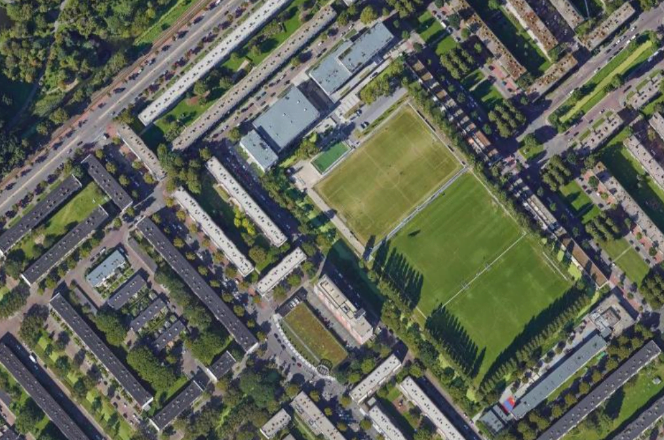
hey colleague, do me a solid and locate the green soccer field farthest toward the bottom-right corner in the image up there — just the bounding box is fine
[424,232,586,387]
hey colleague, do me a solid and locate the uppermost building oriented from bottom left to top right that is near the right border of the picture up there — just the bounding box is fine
[581,1,635,52]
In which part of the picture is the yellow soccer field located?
center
